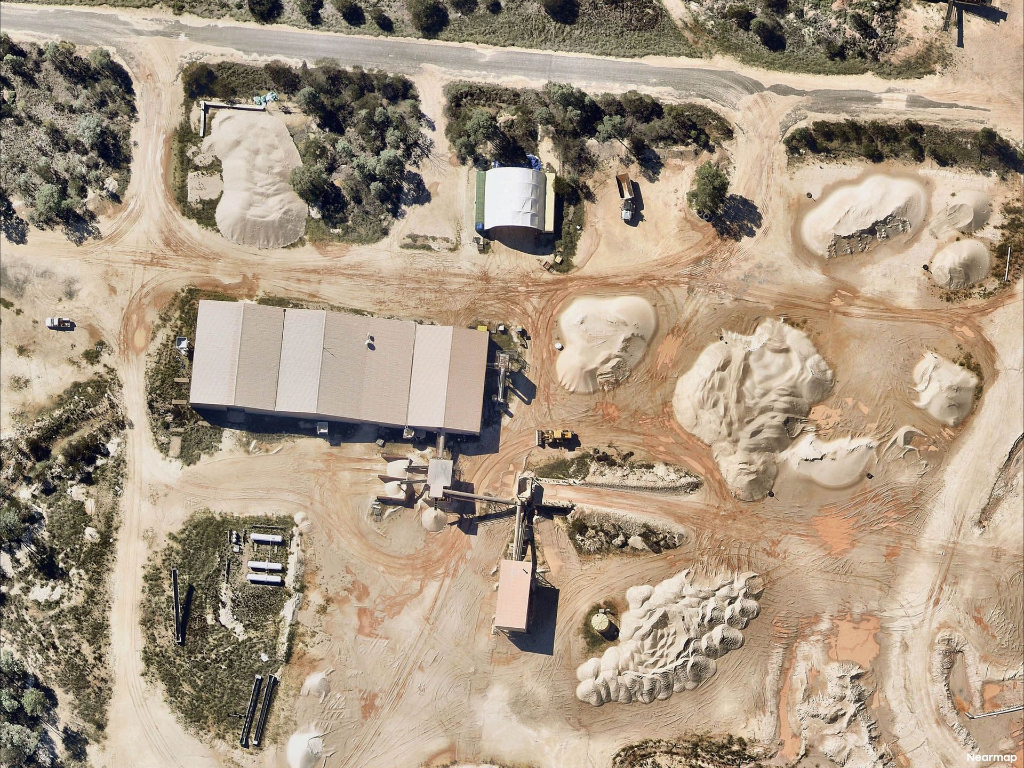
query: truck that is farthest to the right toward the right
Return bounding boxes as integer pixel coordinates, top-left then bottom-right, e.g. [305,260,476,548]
[616,170,638,222]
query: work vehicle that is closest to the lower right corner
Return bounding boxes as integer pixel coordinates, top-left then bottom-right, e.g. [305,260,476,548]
[536,430,572,446]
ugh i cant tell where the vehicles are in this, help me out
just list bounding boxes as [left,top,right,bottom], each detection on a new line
[616,170,638,222]
[536,430,572,446]
[46,318,70,328]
